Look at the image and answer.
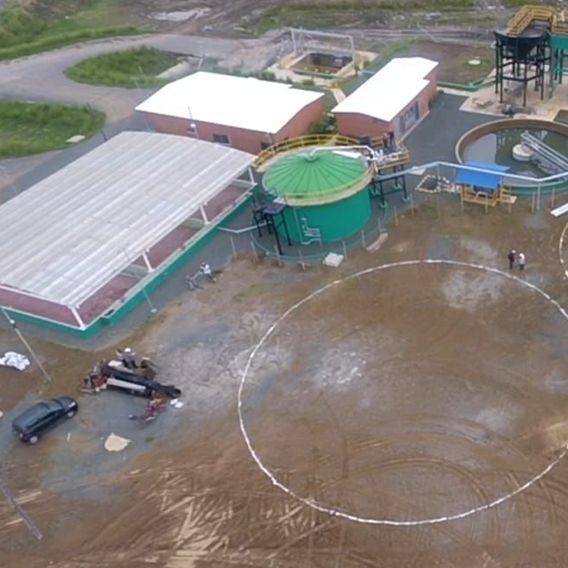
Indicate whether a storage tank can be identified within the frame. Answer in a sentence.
Yes, there's a storage tank down there.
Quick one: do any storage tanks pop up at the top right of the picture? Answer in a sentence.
Yes, a storage tank is visible at the top right of the picture.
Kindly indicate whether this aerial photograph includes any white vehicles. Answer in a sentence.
No, there is no white vehicle in the image.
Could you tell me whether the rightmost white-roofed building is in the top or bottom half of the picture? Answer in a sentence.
The rightmost white-roofed building is in the top half of the image.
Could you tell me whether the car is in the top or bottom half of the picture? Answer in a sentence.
The car sits in the bottom half of the picture.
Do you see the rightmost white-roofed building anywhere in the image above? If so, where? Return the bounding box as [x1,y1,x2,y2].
[333,57,443,145]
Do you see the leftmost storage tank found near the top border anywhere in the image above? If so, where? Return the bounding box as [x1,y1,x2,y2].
[494,24,549,105]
